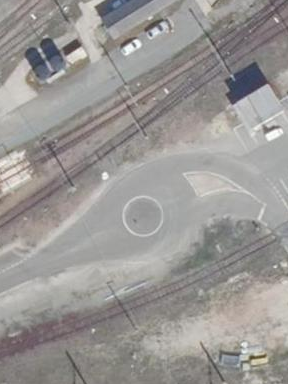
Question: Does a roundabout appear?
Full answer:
Yes, there's a roundabout down there.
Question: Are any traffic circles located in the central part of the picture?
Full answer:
Yes, a traffic circle shows up in the central part of the picture.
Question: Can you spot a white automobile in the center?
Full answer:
No, the scene shows no white automobile in the center.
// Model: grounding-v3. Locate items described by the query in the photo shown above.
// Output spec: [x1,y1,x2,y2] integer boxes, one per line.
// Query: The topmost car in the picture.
[146,20,171,39]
